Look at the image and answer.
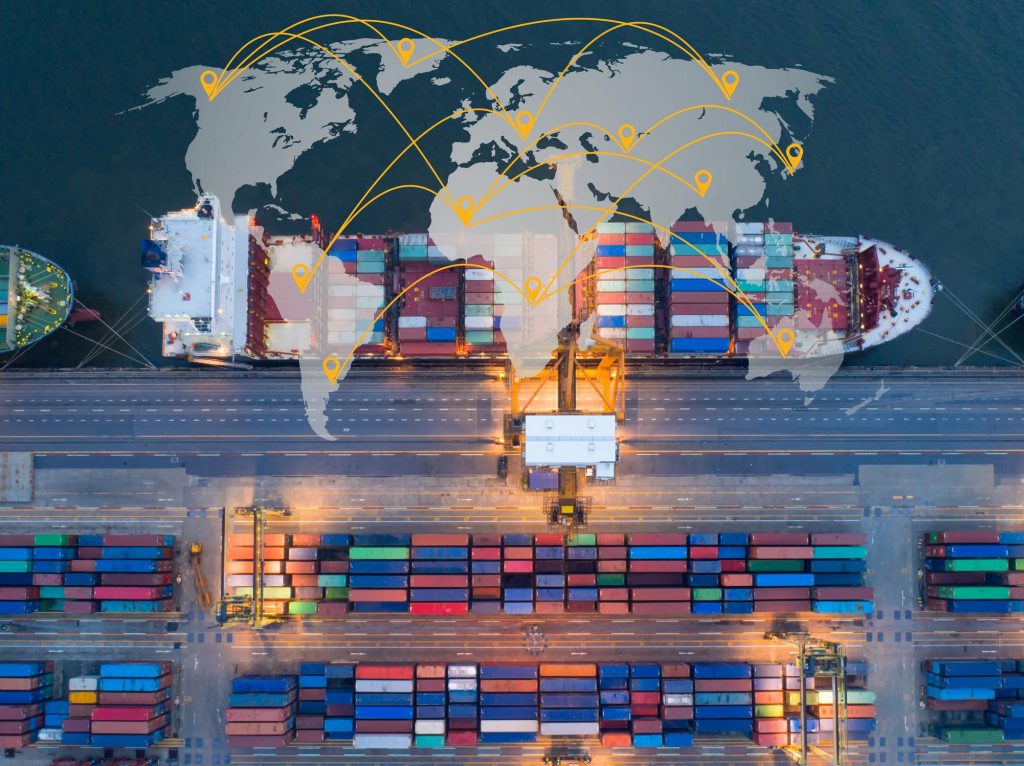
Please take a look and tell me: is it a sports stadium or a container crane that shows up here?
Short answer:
container crane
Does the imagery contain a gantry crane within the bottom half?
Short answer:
Yes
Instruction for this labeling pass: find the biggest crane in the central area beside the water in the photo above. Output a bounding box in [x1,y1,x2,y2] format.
[495,155,622,536]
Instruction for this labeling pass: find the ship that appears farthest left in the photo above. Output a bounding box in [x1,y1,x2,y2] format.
[0,244,105,352]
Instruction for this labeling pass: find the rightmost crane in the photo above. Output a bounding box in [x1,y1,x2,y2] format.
[759,632,845,766]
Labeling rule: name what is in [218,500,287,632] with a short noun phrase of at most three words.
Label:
container crane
